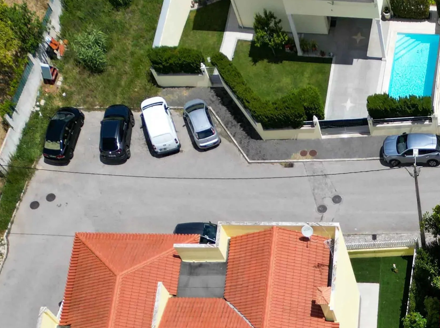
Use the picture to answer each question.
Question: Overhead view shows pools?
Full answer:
Yes, a pool is visible in the scene.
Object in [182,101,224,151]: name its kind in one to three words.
car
